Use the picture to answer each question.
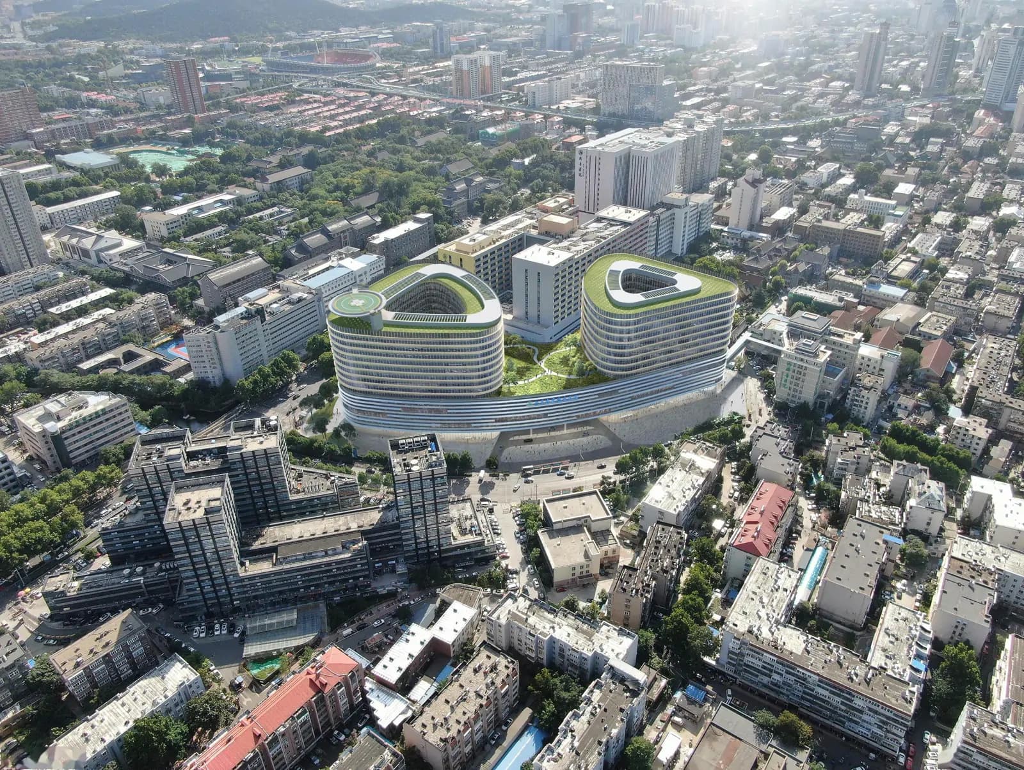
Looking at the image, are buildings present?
Yes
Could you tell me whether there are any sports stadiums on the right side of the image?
No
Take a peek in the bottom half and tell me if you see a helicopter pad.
No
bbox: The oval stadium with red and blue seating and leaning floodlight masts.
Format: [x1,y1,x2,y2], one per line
[256,31,382,78]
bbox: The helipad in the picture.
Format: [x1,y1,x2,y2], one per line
[325,285,389,316]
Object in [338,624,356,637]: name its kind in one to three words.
vehicle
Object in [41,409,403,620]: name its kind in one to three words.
building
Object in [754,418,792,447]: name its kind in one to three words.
building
